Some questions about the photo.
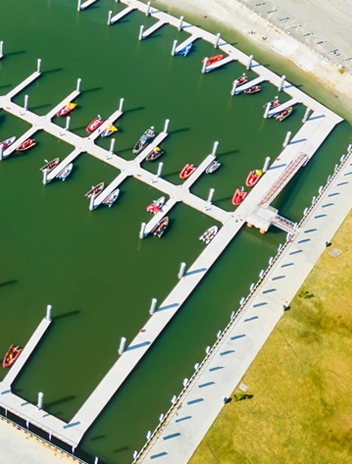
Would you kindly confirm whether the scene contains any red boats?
Yes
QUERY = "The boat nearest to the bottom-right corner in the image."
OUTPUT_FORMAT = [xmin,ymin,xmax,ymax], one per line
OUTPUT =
[197,225,219,244]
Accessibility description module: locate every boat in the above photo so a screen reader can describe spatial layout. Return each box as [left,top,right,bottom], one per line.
[205,158,223,173]
[57,100,78,116]
[273,107,293,122]
[233,73,250,86]
[3,345,22,367]
[85,114,106,132]
[83,183,105,199]
[180,162,197,178]
[100,188,119,209]
[262,101,281,109]
[233,186,249,204]
[245,168,265,187]
[135,123,159,150]
[197,225,219,244]
[16,139,35,152]
[55,162,72,182]
[0,137,16,148]
[143,195,165,215]
[101,122,119,136]
[176,41,194,56]
[38,158,59,173]
[152,216,171,238]
[146,146,165,161]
